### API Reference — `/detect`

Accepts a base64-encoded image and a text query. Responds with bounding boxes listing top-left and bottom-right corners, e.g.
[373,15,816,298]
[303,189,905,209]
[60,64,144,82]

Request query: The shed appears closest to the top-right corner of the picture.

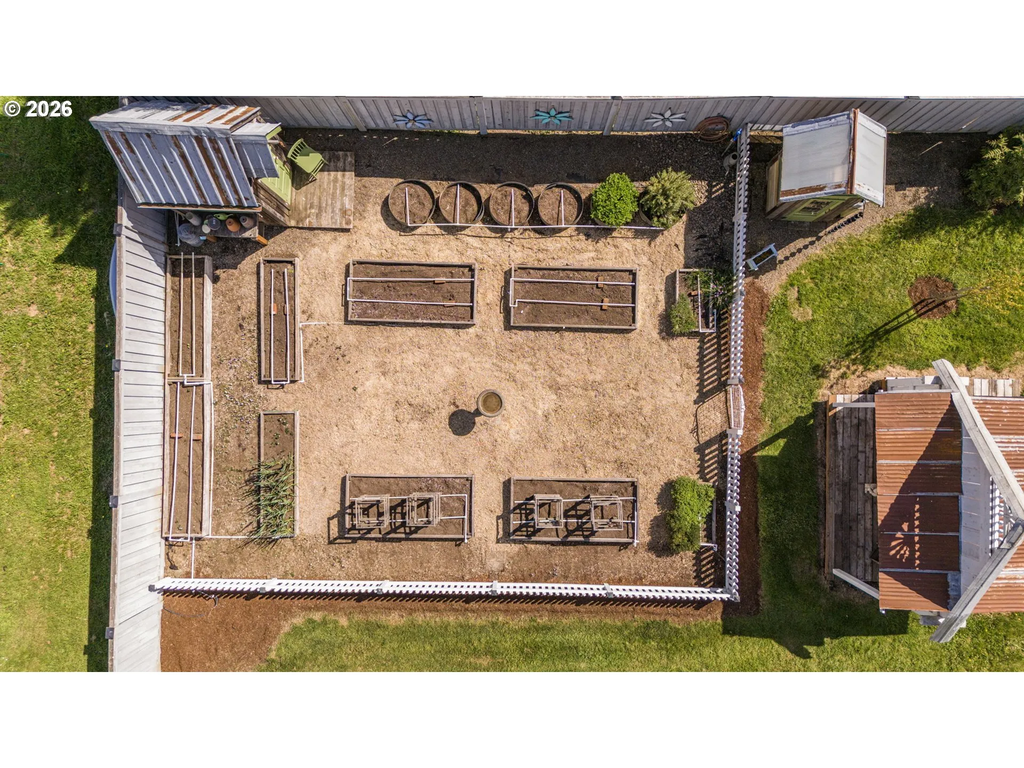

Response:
[766,107,887,219]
